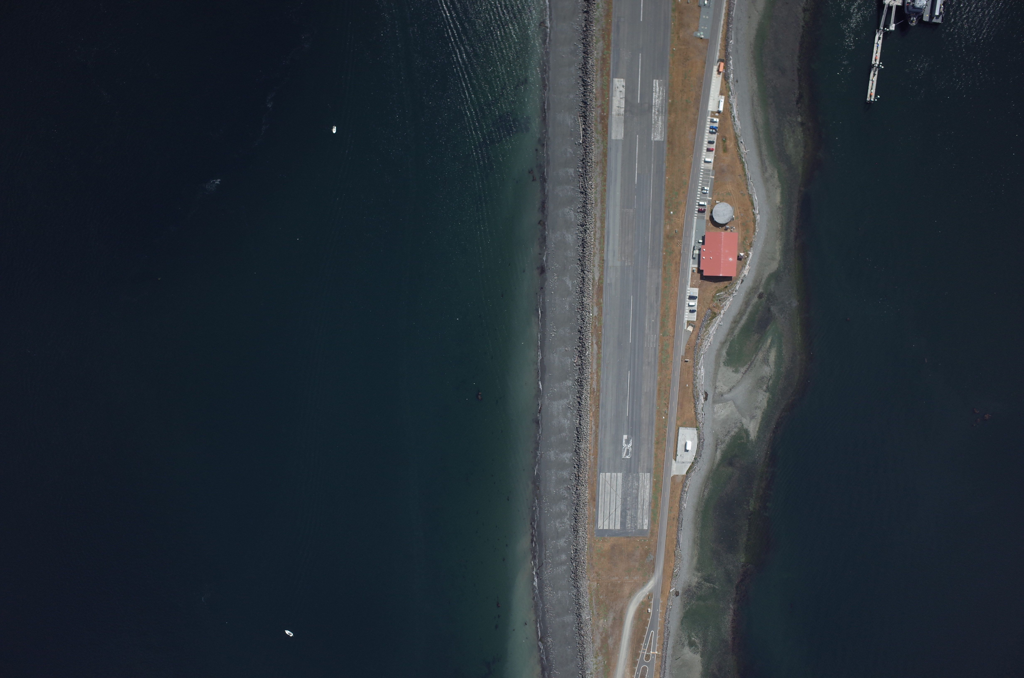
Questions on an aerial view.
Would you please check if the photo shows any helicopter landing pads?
No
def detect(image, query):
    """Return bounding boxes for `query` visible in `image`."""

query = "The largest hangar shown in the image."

[699,232,738,276]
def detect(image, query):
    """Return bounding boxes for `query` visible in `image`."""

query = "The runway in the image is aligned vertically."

[595,0,672,537]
